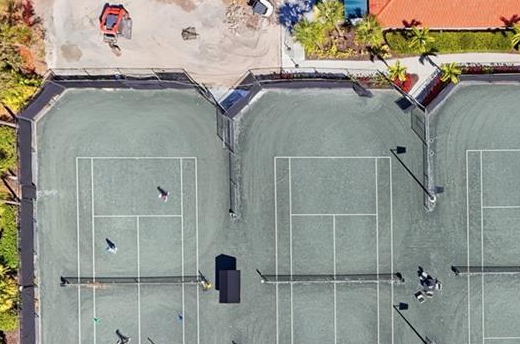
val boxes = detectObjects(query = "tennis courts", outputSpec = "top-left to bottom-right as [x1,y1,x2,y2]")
[34,87,236,344]
[231,88,430,344]
[427,82,520,344]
